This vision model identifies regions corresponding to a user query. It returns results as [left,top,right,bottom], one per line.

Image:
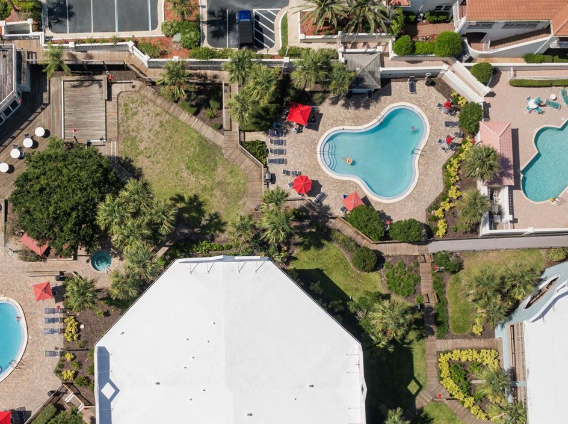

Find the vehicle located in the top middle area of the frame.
[235,11,254,51]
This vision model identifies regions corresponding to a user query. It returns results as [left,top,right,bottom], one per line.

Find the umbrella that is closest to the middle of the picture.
[293,176,311,193]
